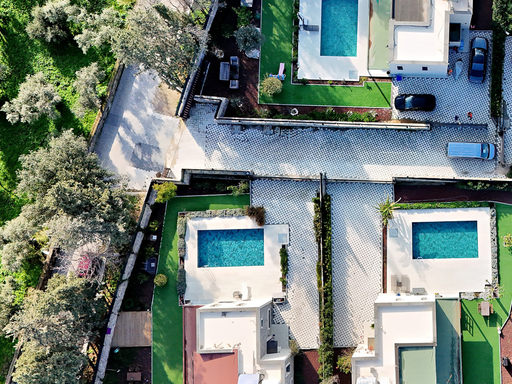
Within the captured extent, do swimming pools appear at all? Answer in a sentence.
Yes, a swimming pool appears in the view.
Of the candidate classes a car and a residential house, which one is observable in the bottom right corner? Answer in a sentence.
You can see a residential house in the bottom right corner.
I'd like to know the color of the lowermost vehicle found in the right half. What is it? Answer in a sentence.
From above, the lowermost vehicle found in the right half appears blue.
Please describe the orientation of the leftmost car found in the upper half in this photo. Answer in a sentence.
The leftmost car found in the upper half has been laid out horizontally relative to the frame.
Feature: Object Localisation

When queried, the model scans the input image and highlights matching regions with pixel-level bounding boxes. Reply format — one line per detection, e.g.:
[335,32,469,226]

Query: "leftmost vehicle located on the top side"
[394,92,436,113]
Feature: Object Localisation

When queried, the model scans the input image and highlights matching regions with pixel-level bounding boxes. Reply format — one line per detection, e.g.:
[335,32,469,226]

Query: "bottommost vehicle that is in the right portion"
[448,140,494,161]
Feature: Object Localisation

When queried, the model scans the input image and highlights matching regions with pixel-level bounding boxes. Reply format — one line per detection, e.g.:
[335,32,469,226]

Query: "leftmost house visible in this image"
[182,300,297,384]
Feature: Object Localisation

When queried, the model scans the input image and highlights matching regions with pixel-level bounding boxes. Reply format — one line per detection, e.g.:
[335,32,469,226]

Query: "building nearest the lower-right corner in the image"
[351,296,462,384]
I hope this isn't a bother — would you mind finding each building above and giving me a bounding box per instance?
[351,296,462,384]
[182,300,297,384]
[367,0,473,77]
